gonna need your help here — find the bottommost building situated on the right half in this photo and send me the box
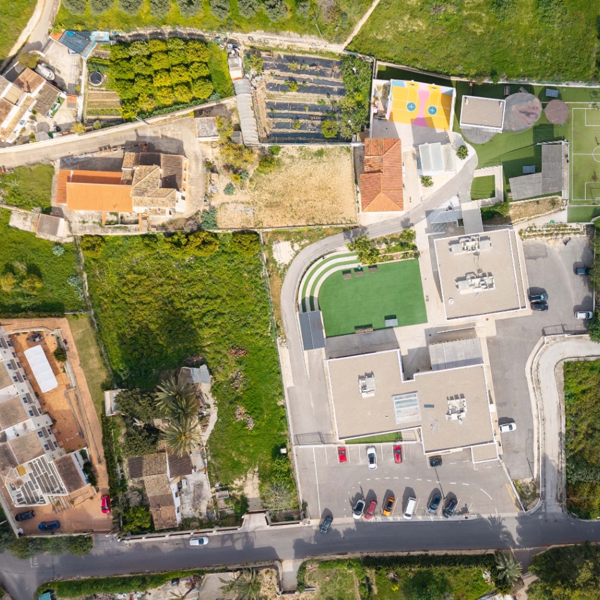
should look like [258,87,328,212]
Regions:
[328,349,499,463]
